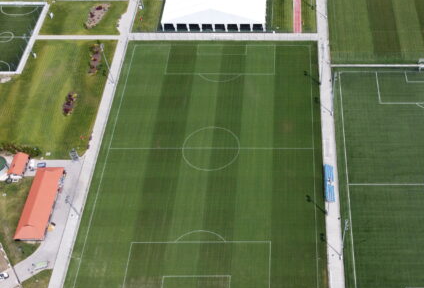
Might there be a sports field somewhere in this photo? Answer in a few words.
Yes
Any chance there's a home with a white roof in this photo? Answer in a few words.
No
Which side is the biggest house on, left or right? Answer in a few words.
left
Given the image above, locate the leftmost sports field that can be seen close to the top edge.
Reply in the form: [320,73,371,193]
[0,5,45,71]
